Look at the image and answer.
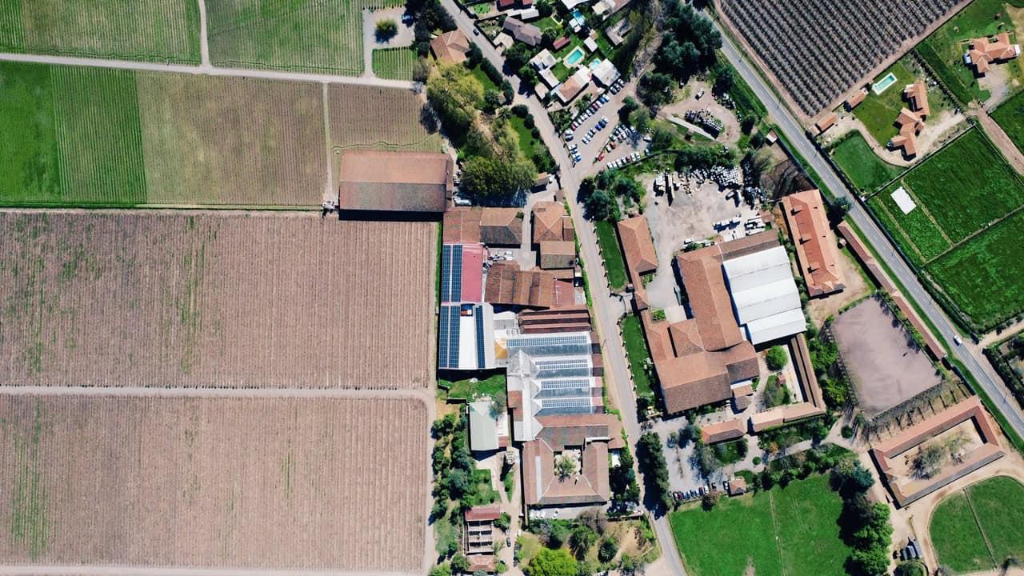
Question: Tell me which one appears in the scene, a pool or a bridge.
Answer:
pool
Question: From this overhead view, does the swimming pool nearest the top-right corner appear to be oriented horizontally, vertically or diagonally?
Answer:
diagonally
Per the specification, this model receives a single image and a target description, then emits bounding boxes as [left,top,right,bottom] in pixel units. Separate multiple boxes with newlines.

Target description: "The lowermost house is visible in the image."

[466,553,495,571]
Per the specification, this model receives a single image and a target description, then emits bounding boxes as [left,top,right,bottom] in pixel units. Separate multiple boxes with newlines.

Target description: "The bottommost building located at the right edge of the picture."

[869,396,1006,507]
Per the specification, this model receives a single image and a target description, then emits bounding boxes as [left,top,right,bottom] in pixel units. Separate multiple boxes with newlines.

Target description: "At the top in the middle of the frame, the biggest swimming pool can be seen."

[563,47,585,67]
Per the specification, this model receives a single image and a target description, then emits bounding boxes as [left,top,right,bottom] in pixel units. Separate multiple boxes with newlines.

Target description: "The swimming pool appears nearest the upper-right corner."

[871,73,897,95]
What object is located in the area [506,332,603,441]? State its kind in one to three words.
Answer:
building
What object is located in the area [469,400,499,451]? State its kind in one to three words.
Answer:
barn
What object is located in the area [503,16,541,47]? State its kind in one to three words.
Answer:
house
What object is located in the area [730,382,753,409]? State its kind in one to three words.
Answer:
shed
